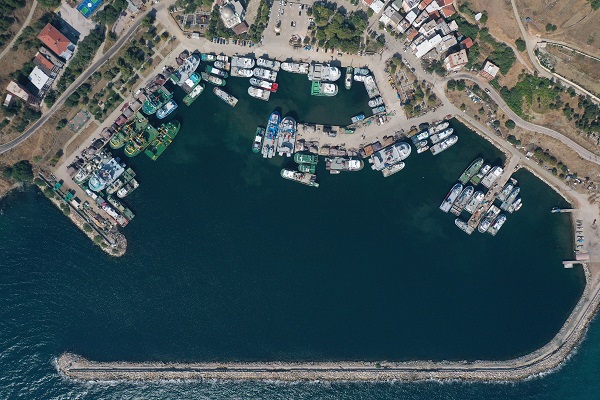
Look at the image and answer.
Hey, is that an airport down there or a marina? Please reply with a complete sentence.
The area seen from above is a marina.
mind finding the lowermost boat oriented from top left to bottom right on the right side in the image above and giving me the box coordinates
[455,218,474,235]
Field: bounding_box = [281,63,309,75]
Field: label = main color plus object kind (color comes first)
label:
white boat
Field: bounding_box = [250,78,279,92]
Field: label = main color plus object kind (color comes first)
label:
white boat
